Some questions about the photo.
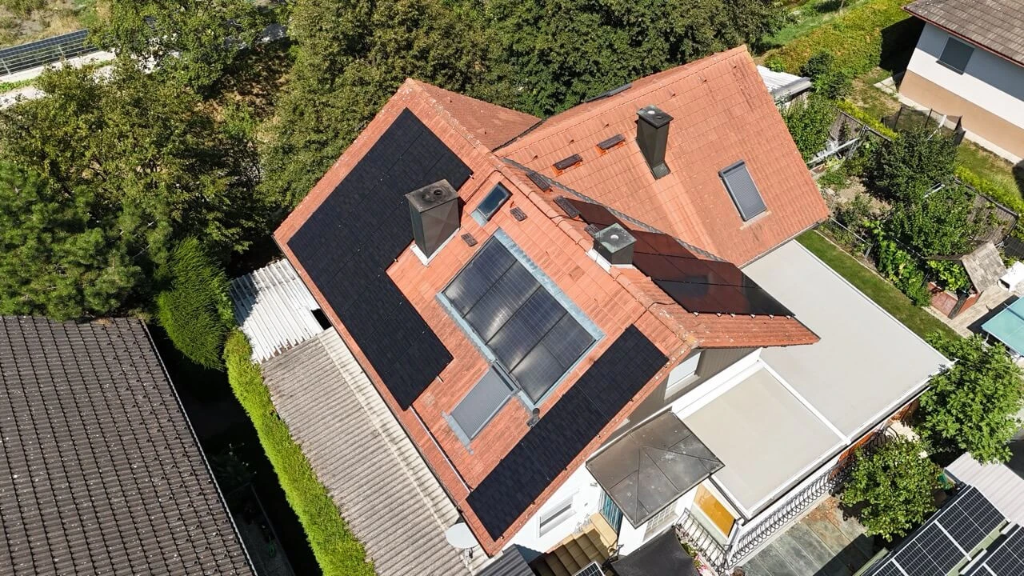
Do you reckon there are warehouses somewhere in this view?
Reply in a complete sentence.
No, no warehouse can be seen from above.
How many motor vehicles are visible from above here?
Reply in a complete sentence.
Not a single motor vehicle can be seen.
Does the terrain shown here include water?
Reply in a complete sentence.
No, no water is visible.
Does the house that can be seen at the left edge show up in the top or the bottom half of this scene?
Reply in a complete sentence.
Seen from above, the house that can be seen at the left edge lies in the bottom half of the view.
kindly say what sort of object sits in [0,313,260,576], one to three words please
house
